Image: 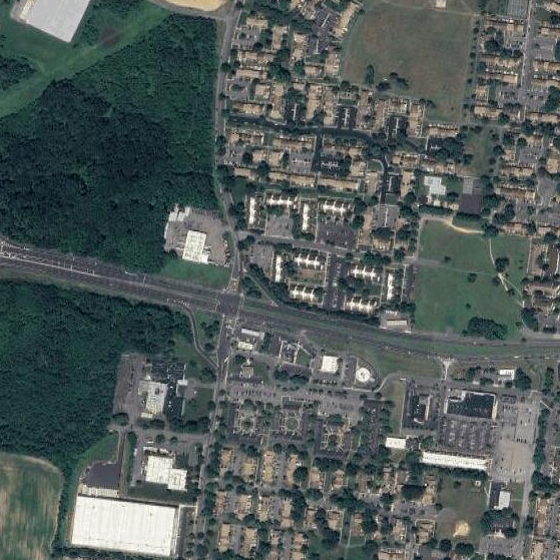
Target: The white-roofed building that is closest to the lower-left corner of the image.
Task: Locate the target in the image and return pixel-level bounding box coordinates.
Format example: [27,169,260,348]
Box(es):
[71,495,177,556]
